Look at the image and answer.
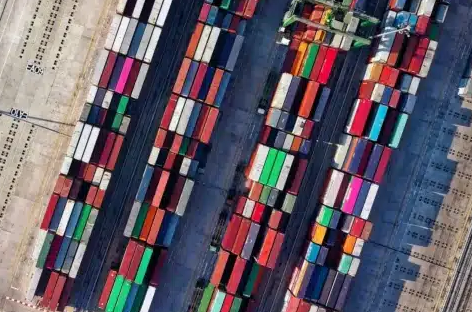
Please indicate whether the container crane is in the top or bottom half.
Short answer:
top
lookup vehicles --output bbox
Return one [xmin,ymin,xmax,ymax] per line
[281,20,295,47]
[188,278,205,312]
[208,208,229,253]
[255,71,276,116]
[276,20,288,35]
